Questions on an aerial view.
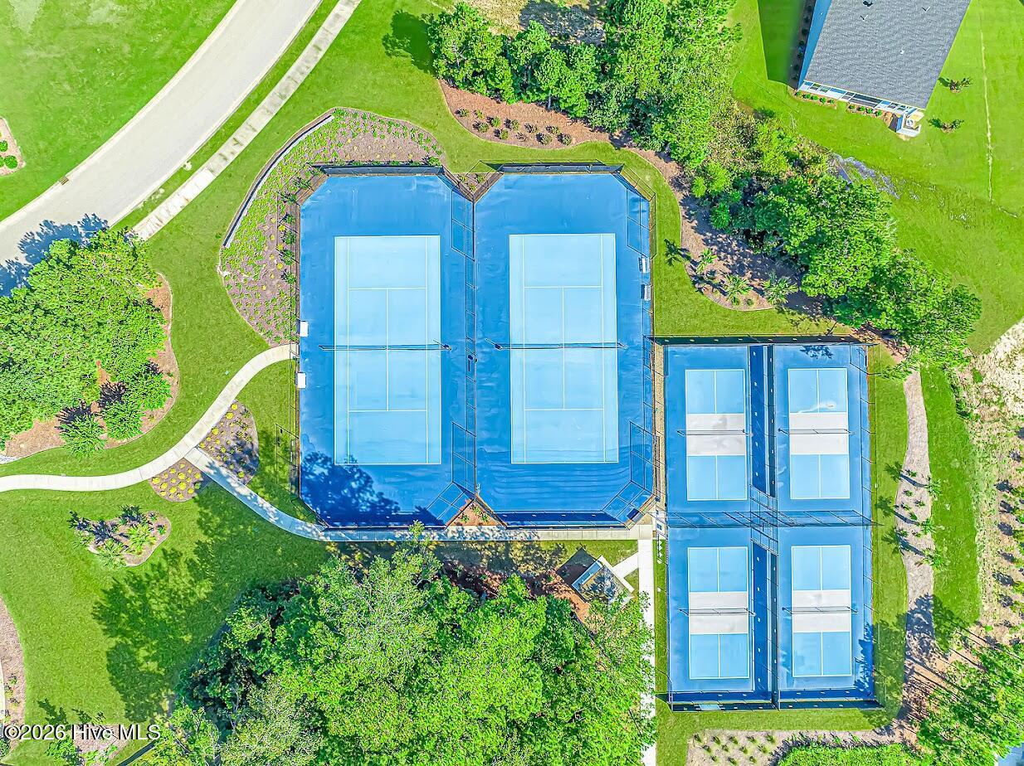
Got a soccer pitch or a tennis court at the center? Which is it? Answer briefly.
tennis court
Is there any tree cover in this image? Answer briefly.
Yes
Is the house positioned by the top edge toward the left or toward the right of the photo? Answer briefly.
right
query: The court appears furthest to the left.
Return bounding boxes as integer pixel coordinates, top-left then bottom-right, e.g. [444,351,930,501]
[300,175,475,527]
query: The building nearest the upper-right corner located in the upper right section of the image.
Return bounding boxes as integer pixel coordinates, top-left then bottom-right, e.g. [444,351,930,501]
[798,0,977,118]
